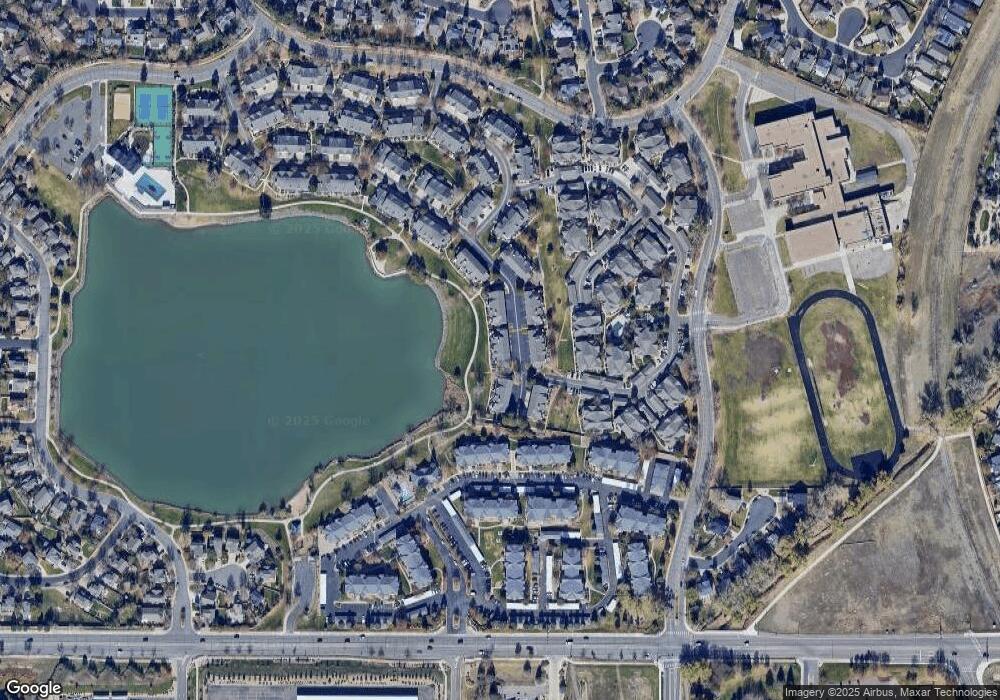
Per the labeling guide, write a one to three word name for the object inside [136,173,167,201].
swimming pool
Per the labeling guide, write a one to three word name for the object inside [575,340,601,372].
house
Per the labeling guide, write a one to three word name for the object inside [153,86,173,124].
tennis court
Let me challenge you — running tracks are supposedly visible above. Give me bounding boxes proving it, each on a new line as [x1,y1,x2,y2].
[789,290,903,480]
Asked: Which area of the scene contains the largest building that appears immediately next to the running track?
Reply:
top right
